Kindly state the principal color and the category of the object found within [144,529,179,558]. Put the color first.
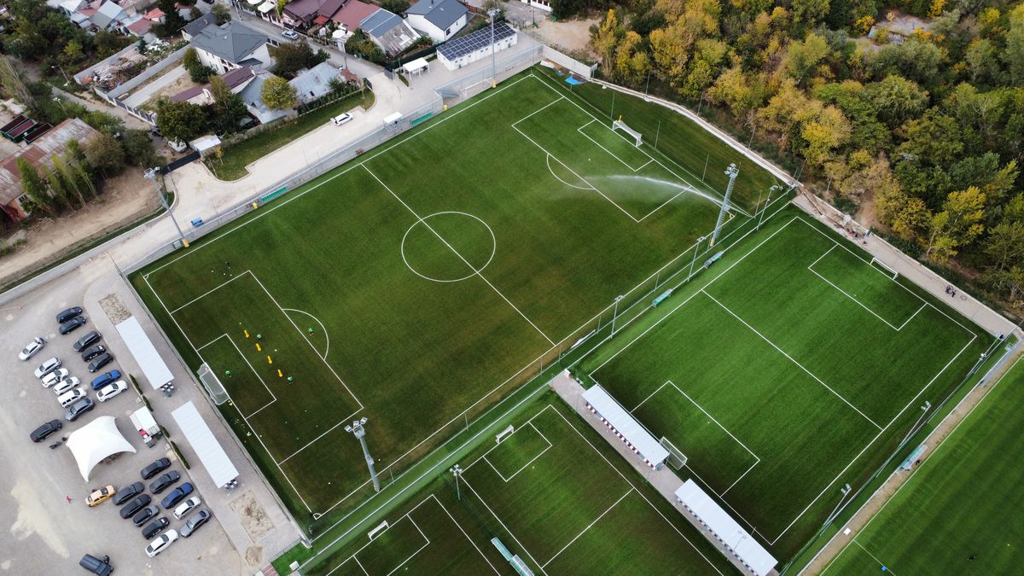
white car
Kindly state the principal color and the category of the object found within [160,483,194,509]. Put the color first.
blue car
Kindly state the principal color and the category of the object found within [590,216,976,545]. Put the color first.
green soccer field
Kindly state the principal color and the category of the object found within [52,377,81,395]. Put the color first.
white car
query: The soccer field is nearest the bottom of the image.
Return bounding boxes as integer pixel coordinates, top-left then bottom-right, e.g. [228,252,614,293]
[327,494,500,576]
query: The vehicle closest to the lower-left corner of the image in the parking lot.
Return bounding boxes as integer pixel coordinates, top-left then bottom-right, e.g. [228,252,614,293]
[76,553,113,576]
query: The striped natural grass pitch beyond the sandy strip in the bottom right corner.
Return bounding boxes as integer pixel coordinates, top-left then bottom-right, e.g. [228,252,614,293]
[821,353,1024,576]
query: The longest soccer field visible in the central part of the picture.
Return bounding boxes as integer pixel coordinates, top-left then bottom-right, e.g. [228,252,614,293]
[144,74,734,519]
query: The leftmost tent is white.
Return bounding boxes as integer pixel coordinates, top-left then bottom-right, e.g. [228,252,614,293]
[66,417,137,483]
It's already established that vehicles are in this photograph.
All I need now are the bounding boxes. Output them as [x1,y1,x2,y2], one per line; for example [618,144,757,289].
[55,307,81,323]
[52,377,81,395]
[83,486,116,508]
[18,337,47,360]
[144,529,179,558]
[57,389,88,408]
[139,457,172,481]
[179,510,211,538]
[163,139,191,154]
[147,470,181,495]
[57,317,86,334]
[118,493,152,520]
[40,369,68,388]
[91,372,119,390]
[72,331,102,352]
[332,114,354,126]
[64,399,95,421]
[160,483,194,509]
[30,421,63,443]
[76,553,113,576]
[111,480,145,507]
[80,344,107,362]
[139,516,173,543]
[33,357,61,377]
[170,496,203,522]
[87,353,114,372]
[130,504,162,528]
[96,382,128,402]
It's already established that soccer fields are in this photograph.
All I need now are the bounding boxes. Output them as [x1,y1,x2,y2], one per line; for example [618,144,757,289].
[590,216,976,545]
[327,494,500,576]
[461,405,722,576]
[821,353,1024,576]
[144,74,734,519]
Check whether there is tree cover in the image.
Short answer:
Yes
